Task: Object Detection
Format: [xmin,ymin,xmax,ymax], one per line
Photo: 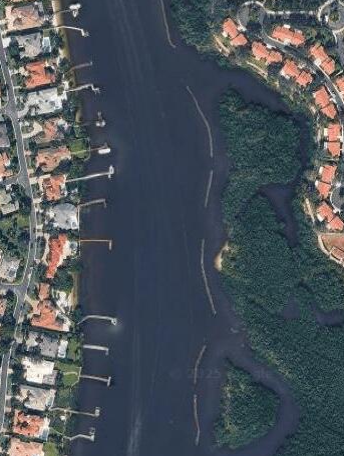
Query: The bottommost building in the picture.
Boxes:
[9,438,40,456]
